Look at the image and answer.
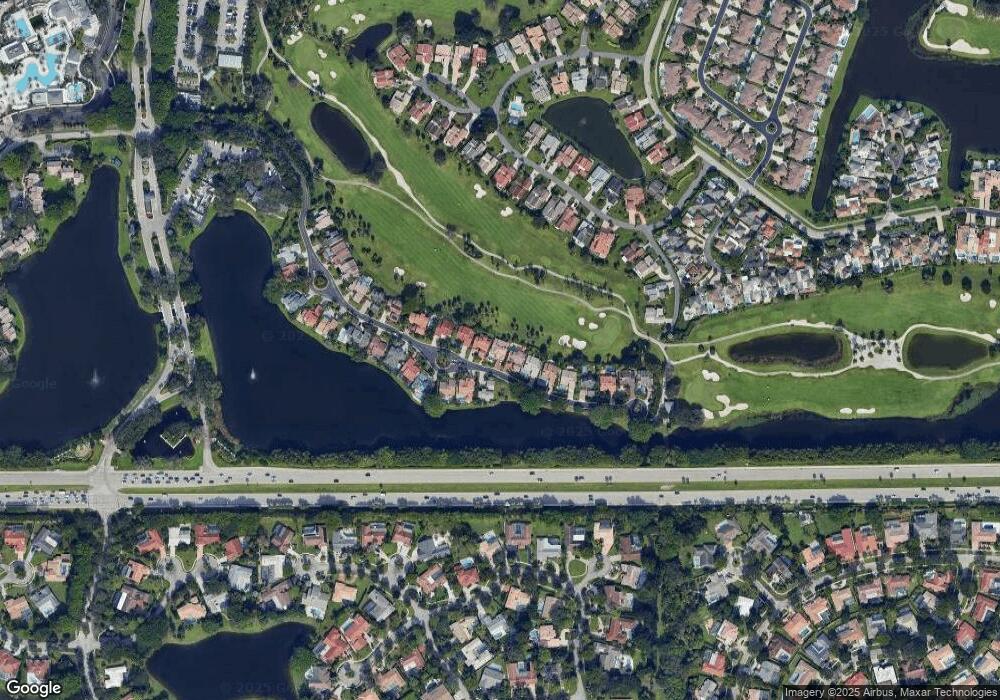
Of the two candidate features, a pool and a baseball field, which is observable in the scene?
pool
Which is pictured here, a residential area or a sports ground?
residential area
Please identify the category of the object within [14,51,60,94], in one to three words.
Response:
swimming pool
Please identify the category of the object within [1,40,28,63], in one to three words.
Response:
building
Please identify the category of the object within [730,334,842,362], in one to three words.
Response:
pond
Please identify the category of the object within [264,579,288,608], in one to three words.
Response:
house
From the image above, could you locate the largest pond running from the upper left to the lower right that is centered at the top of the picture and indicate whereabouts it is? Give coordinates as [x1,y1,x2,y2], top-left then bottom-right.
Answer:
[543,97,645,182]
